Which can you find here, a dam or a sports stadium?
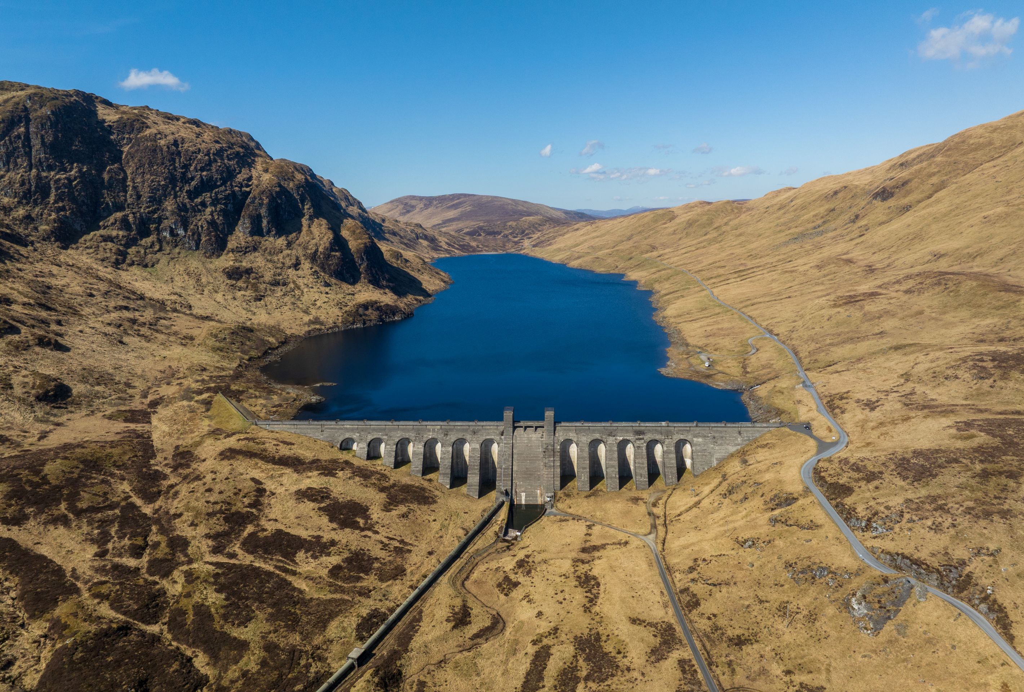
dam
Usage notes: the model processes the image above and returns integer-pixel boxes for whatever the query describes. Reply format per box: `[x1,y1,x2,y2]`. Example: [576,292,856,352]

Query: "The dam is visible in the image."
[250,407,784,507]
